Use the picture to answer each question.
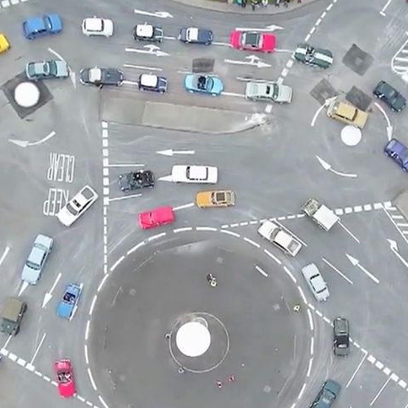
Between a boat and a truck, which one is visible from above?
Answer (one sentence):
This aerial view contains a truck.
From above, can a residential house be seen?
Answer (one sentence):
No, the picture doesn't show any residential house.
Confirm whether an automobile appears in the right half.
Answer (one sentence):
Yes, the scene does show an automobile in the right half.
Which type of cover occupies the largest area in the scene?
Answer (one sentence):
What you mostly see from above here is paved ground.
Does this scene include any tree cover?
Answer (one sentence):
No, there is no tree cover in the image.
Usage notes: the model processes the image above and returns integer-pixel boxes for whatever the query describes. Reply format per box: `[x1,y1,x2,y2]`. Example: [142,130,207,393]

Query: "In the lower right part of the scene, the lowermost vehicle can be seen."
[310,378,339,408]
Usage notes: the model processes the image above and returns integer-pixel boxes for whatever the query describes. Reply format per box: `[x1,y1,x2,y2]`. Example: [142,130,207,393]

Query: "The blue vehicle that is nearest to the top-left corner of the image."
[21,12,64,42]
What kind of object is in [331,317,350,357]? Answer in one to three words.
vehicle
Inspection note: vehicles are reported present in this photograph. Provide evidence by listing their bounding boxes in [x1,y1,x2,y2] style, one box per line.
[57,181,98,229]
[81,18,113,38]
[291,42,332,70]
[79,65,123,87]
[136,72,168,95]
[178,25,213,47]
[256,219,302,257]
[25,59,70,82]
[298,196,344,232]
[242,79,292,103]
[21,12,64,42]
[227,28,276,55]
[369,77,408,115]
[382,135,408,176]
[132,21,164,44]
[170,164,217,184]
[181,72,224,98]
[116,170,154,191]
[0,295,28,338]
[310,378,339,408]
[331,317,350,357]
[23,234,52,285]
[324,97,369,127]
[0,33,13,56]
[57,282,81,321]
[301,261,329,302]
[136,208,176,228]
